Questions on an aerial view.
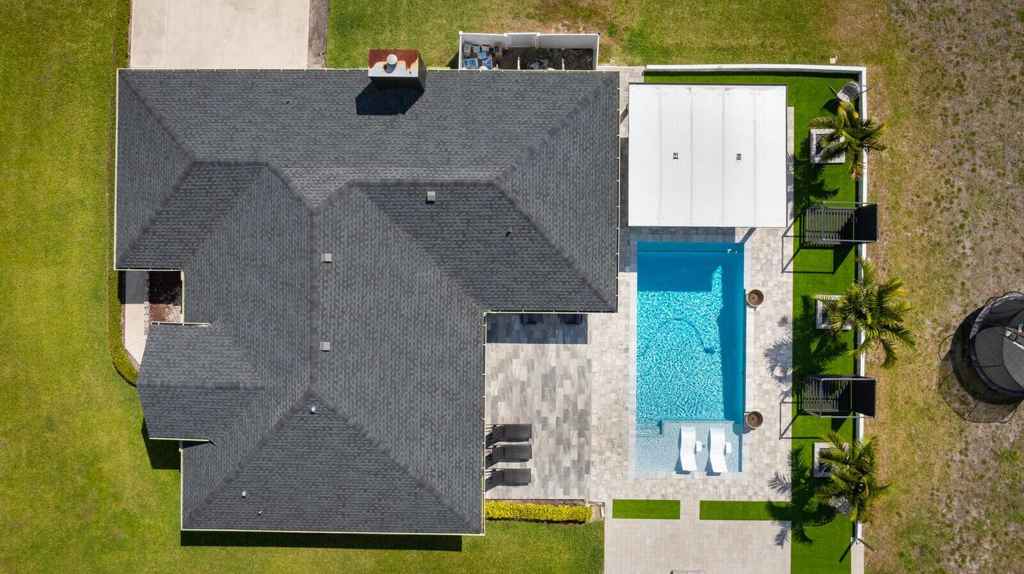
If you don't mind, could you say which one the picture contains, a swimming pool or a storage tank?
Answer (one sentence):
This aerial view contains a swimming pool.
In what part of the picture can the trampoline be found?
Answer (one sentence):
You can find the trampoline in the right area of the picture.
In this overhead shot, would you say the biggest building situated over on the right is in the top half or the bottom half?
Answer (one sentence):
It is in the top half that the biggest building situated over on the right appears.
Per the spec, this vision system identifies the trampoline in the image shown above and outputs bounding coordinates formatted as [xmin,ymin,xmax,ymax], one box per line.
[960,287,1024,401]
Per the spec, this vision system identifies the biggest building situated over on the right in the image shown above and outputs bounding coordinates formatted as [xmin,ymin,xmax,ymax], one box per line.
[624,83,787,227]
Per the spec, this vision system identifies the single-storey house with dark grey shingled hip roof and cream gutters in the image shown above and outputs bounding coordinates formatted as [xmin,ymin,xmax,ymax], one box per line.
[116,48,620,535]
